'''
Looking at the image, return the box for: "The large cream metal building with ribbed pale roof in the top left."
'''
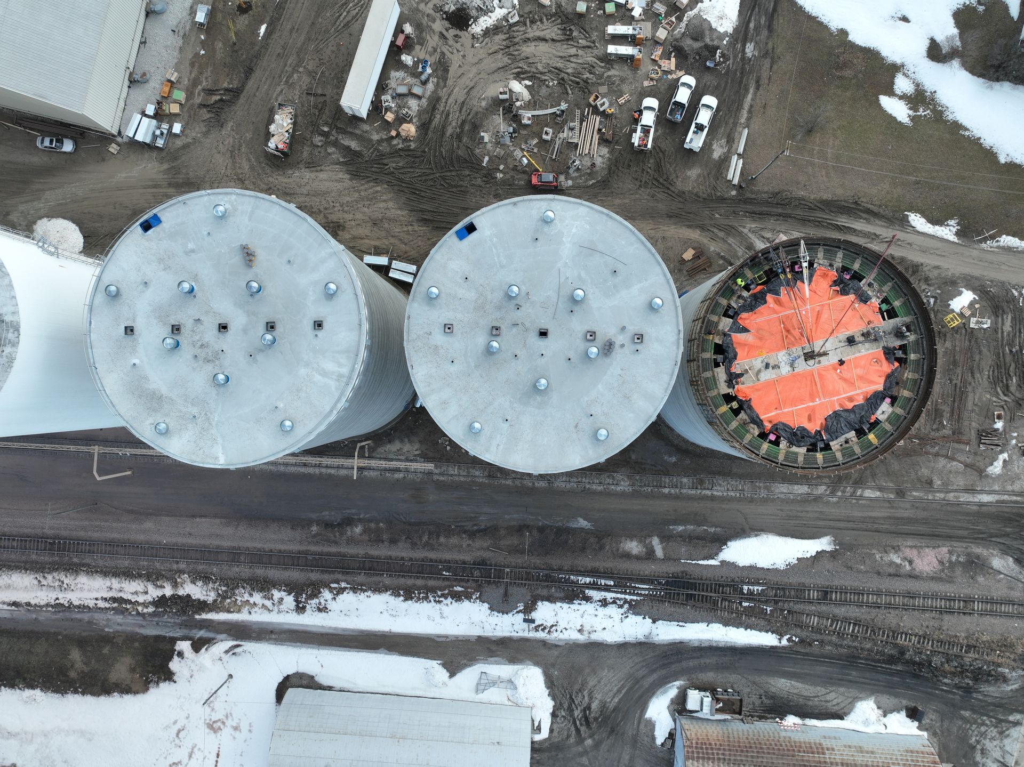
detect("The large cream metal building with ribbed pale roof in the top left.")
[0,0,150,135]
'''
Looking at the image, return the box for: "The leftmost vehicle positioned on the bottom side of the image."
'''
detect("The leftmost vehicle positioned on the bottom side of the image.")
[681,685,745,717]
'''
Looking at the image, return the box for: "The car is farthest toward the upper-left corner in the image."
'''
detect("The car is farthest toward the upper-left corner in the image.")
[37,135,78,155]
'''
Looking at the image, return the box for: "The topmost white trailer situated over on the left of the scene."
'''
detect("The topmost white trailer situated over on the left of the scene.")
[340,0,399,120]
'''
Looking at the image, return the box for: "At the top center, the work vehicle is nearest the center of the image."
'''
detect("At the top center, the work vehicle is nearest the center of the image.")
[531,172,566,193]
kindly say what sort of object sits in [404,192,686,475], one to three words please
silo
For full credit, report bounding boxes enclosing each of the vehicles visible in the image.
[37,135,78,155]
[683,94,718,158]
[531,172,566,193]
[629,96,660,156]
[665,73,696,127]
[681,685,745,717]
